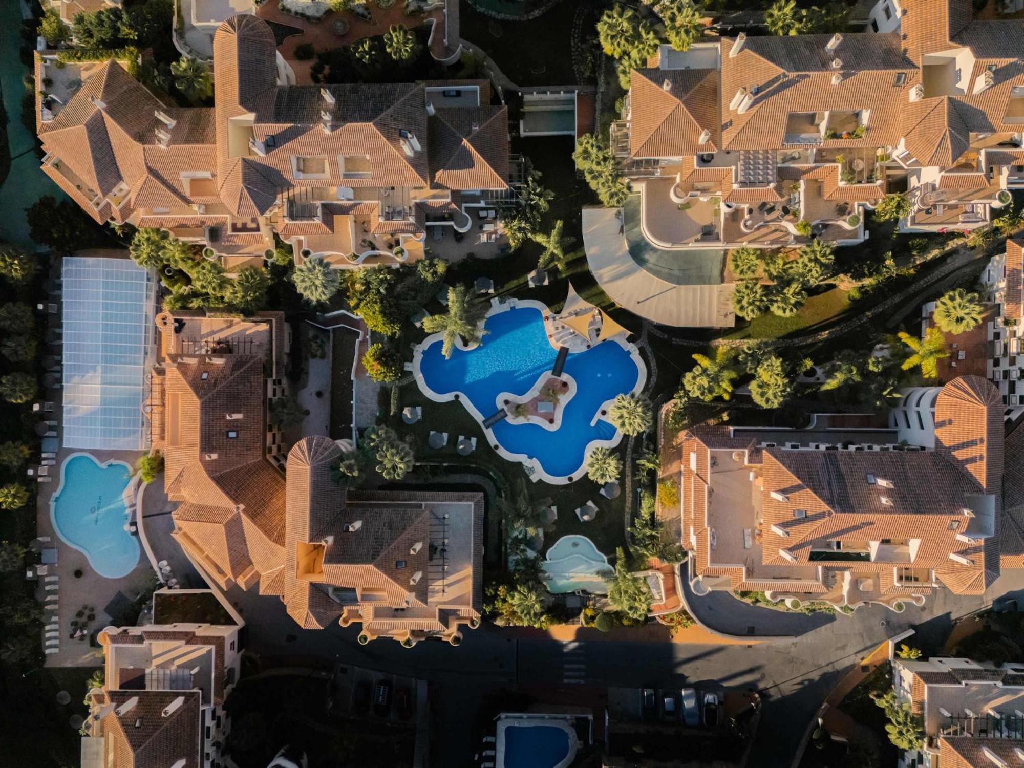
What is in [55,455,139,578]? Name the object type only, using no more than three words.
swimming pool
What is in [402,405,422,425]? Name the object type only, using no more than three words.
umbrella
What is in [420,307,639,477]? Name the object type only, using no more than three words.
swimming pool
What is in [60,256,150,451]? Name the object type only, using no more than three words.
building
